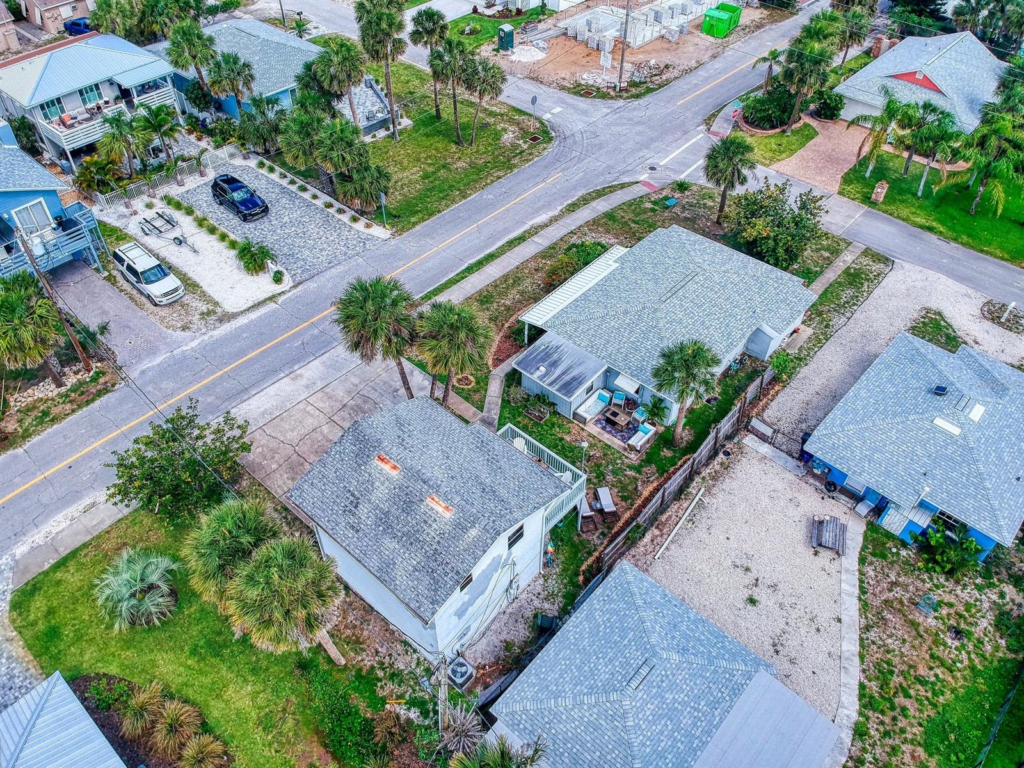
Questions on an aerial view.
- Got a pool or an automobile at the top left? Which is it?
automobile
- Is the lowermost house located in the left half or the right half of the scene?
left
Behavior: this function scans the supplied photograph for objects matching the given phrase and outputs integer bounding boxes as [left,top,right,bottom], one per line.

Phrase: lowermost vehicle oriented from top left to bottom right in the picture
[110,237,190,307]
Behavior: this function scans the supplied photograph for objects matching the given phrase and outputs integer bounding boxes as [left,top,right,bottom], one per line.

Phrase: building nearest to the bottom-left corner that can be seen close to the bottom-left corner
[0,671,132,768]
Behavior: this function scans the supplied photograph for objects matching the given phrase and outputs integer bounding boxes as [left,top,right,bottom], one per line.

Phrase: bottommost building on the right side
[488,561,872,768]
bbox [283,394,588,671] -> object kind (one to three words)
house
